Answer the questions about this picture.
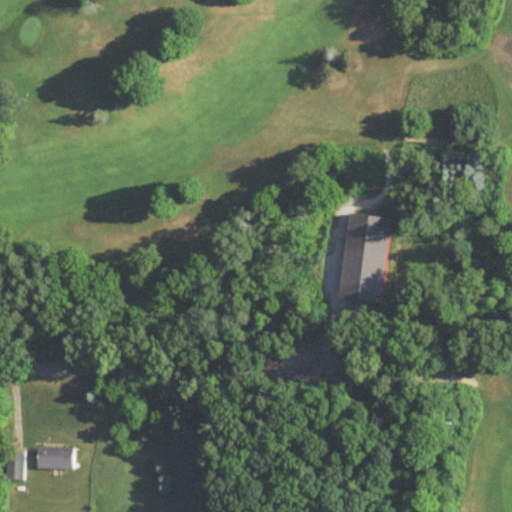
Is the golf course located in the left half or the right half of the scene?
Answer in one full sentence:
The golf course is on the left side of the image.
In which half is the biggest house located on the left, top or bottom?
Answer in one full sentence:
The bottom half of the photo is where the biggest house located on the left is.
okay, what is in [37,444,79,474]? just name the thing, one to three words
house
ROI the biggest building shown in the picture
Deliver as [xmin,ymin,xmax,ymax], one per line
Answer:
[340,212,394,304]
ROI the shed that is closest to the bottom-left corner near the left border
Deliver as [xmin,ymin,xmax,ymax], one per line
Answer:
[8,449,28,480]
